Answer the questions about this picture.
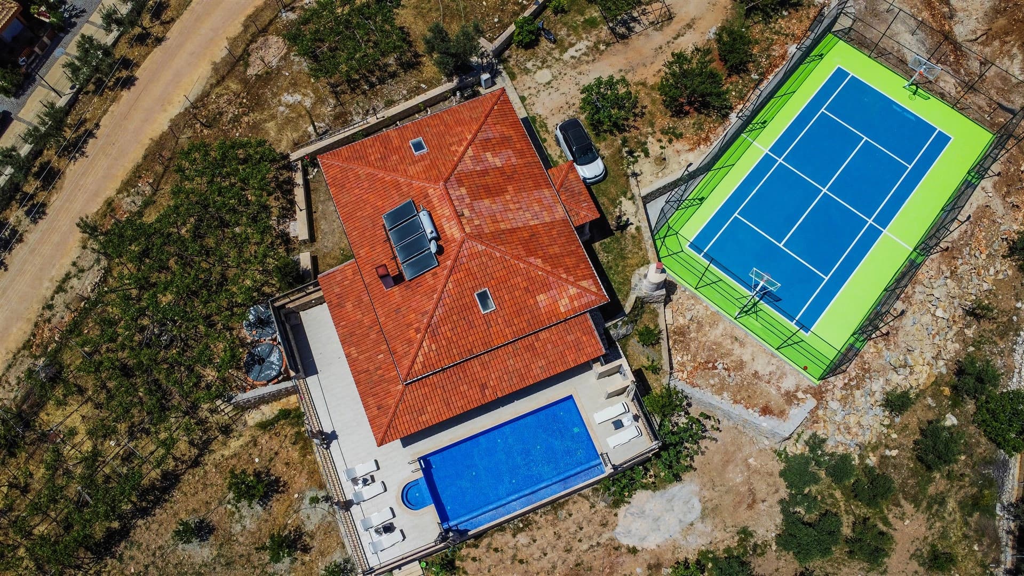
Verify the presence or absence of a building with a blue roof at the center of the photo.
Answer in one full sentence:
No, the scene shows no building with a blue roof at the center of the photo.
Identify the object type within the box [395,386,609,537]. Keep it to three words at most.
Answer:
swimming pool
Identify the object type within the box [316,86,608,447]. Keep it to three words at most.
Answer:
house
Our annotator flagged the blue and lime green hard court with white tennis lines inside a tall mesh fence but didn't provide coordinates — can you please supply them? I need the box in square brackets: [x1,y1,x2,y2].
[654,32,995,386]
